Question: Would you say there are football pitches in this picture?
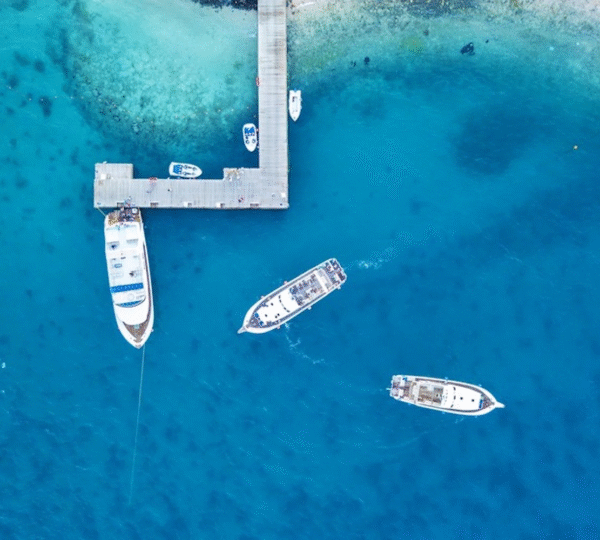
No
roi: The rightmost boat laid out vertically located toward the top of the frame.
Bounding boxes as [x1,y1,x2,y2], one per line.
[289,88,302,122]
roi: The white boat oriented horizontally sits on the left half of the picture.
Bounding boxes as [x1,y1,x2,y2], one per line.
[168,162,203,179]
